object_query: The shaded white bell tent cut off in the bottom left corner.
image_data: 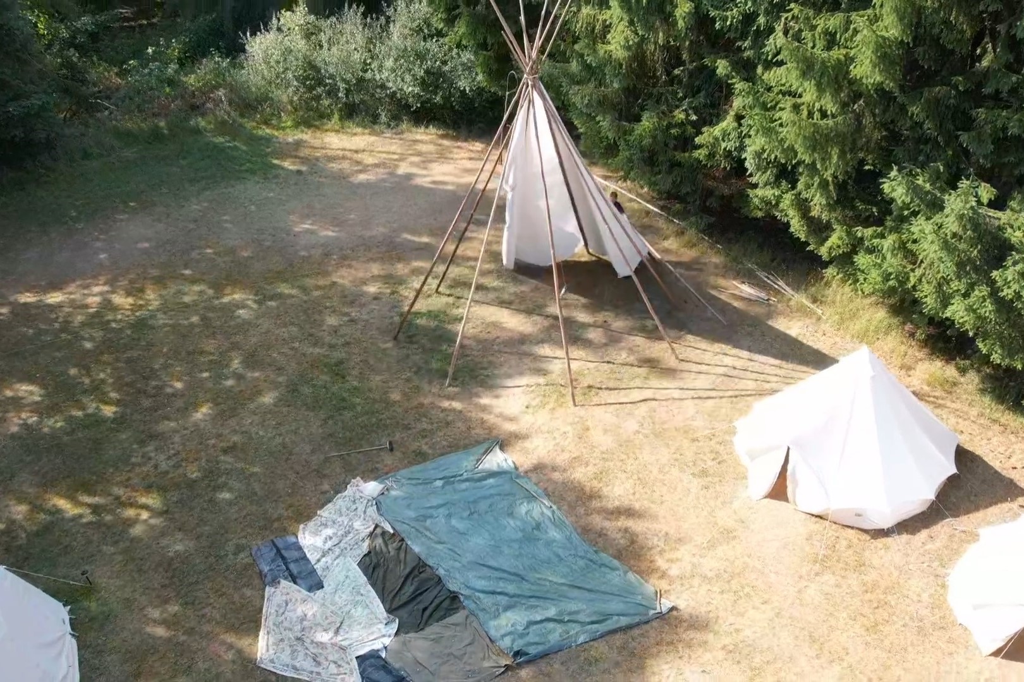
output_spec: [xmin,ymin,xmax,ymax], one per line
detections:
[0,566,79,682]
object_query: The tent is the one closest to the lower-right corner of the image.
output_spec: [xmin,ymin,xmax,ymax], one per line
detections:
[877,497,1024,682]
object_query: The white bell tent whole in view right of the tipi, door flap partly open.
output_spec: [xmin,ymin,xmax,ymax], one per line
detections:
[684,344,998,570]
